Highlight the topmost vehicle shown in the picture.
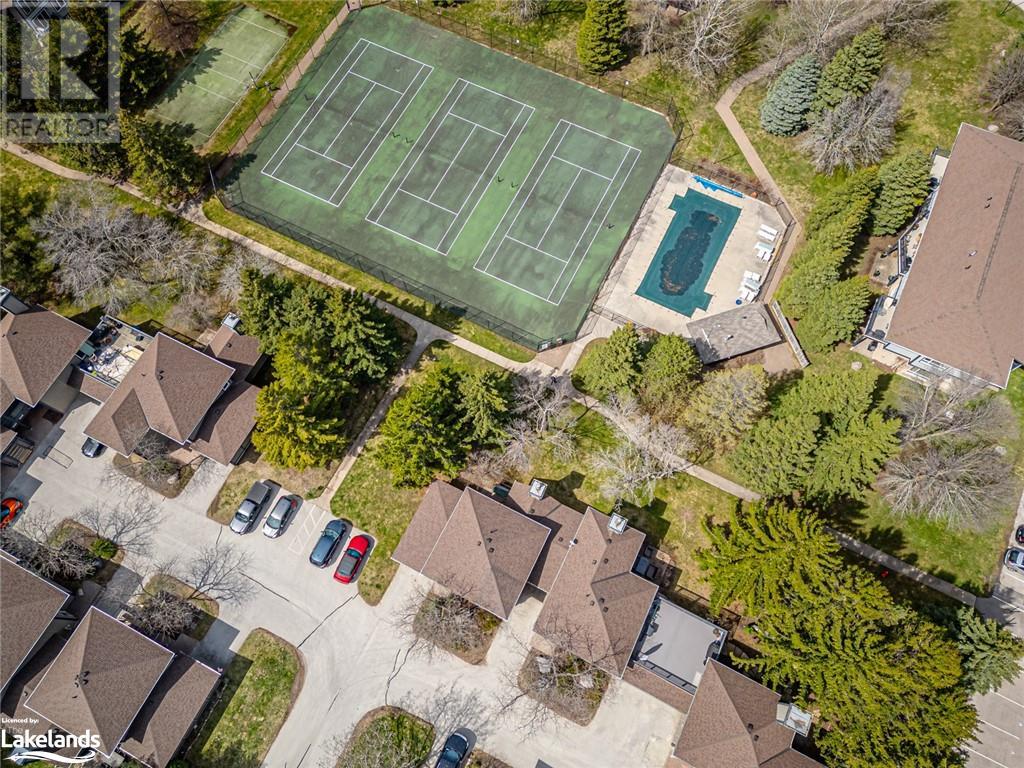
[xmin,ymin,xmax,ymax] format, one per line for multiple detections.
[79,435,103,458]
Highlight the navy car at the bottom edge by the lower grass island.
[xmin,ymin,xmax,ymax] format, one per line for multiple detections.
[432,725,470,768]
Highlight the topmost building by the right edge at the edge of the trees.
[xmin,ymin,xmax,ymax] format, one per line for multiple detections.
[874,122,1024,394]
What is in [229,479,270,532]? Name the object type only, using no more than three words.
truck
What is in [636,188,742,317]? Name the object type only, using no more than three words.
swimming pool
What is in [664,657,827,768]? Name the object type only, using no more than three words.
house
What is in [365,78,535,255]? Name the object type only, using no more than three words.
tennis court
